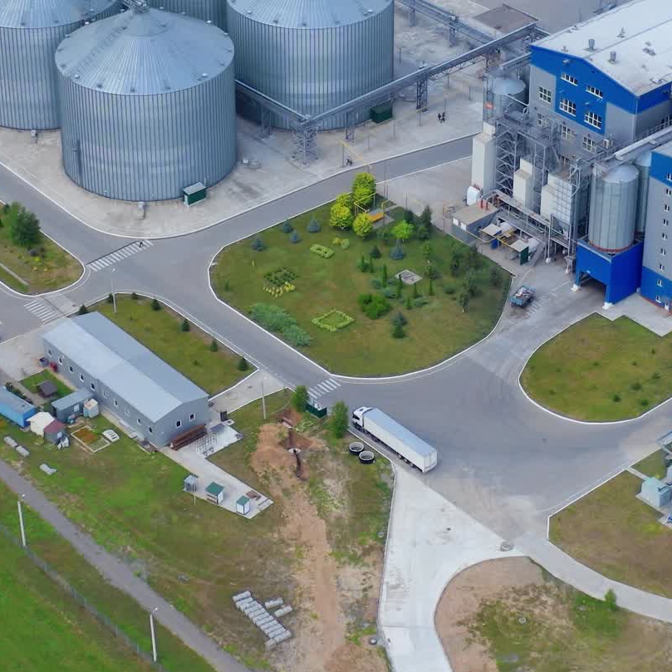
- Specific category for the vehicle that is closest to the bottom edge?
truck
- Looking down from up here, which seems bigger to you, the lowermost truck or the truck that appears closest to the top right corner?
the lowermost truck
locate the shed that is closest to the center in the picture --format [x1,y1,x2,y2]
[308,389,335,416]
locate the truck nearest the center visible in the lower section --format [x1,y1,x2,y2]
[344,403,437,472]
